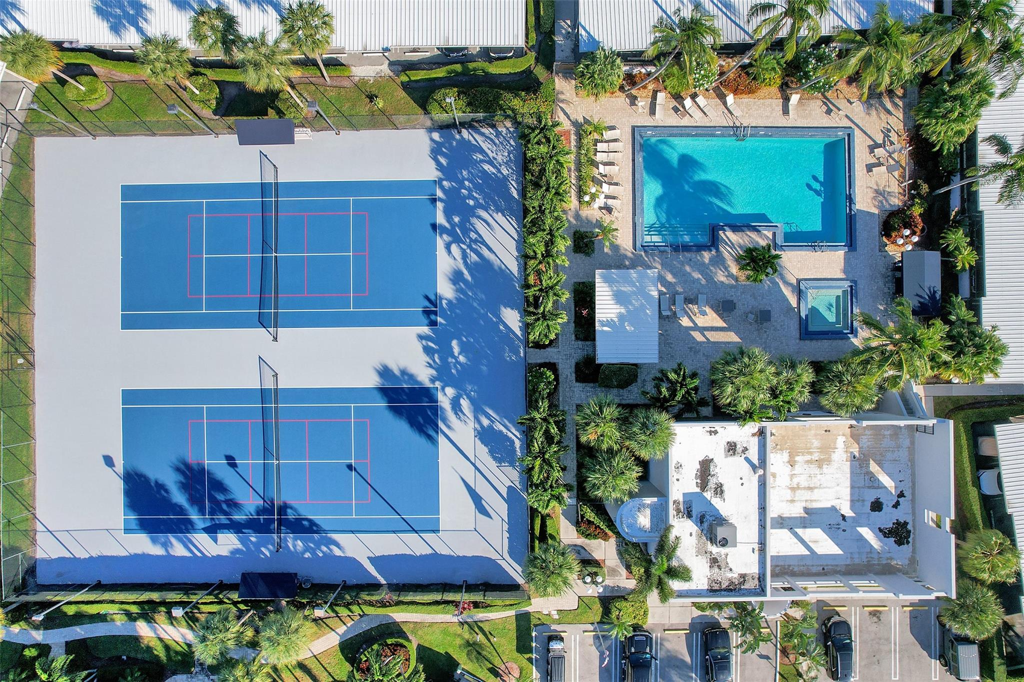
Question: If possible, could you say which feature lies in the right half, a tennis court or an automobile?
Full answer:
What appears in the right half is an automobile.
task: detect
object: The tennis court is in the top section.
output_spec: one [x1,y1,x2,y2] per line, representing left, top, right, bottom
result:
[120,179,439,330]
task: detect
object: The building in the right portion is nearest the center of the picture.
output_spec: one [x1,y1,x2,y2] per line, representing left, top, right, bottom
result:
[595,269,661,363]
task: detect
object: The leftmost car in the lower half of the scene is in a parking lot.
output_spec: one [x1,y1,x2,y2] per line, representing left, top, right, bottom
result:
[540,637,570,682]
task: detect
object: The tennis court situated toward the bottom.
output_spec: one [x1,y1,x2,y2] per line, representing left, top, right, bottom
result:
[121,386,440,535]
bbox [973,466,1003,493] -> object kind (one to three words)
car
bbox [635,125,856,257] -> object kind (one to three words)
swimming pool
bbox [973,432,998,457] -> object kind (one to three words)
car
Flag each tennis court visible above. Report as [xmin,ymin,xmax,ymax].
[121,386,440,535]
[120,179,439,330]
